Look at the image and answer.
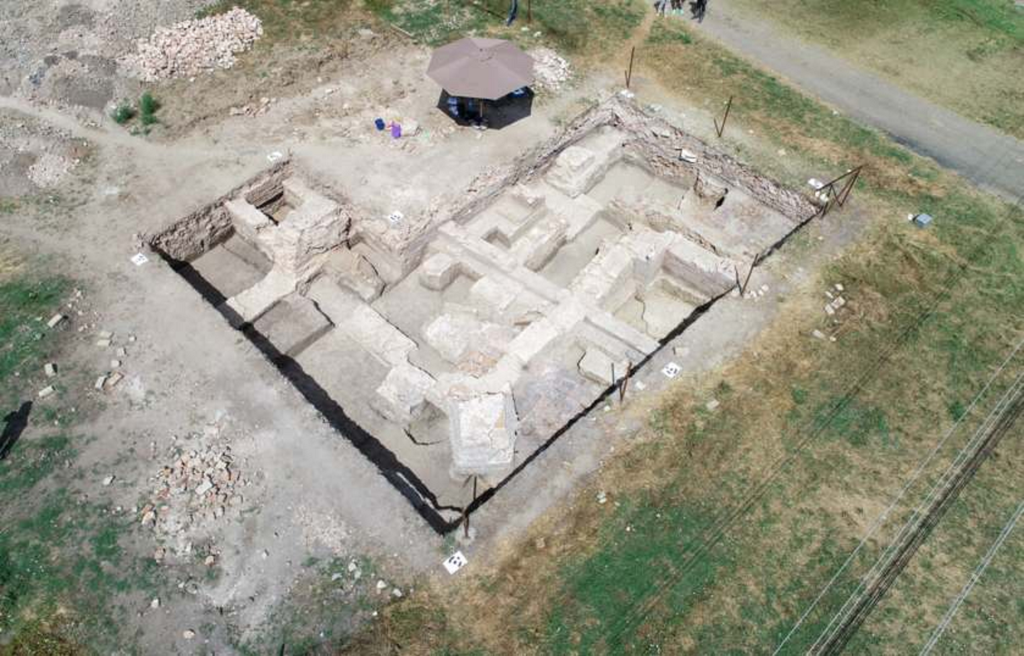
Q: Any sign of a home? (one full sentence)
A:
No, there's no home here.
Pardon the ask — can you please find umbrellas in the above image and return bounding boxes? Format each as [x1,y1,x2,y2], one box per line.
[424,36,537,133]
